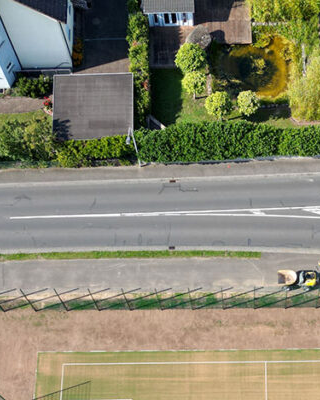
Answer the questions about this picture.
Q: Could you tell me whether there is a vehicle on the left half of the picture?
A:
No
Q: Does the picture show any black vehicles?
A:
No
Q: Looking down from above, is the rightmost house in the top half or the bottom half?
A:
top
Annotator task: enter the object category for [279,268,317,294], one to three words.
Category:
truck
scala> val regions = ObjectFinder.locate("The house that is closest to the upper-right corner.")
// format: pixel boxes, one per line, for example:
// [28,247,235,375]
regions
[141,0,195,25]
